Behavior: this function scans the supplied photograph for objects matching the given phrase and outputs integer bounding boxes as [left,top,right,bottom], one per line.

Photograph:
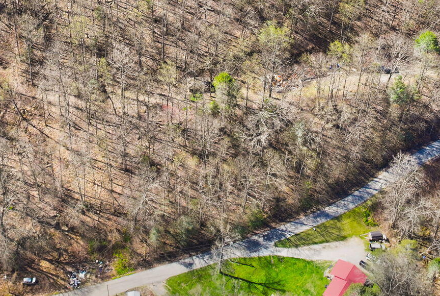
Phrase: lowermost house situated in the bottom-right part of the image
[317,264,369,296]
